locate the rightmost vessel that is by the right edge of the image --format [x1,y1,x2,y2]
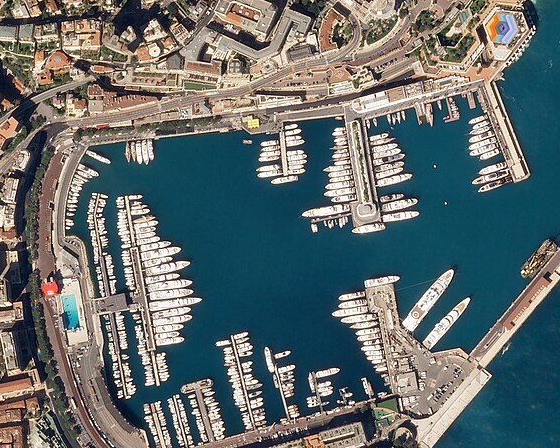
[518,237,557,280]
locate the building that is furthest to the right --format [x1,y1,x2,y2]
[486,7,532,62]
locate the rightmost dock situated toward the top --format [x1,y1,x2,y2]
[484,82,531,181]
